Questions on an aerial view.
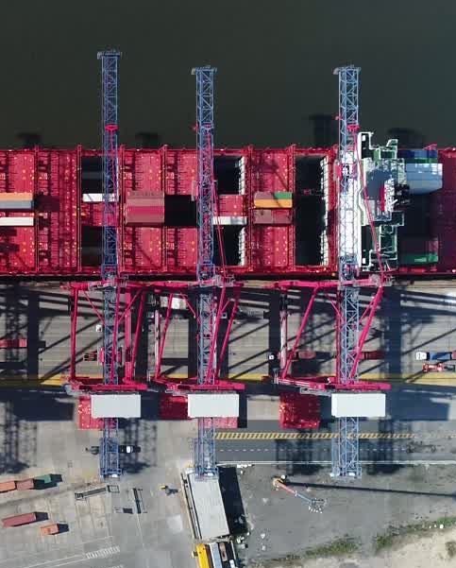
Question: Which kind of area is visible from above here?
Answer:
port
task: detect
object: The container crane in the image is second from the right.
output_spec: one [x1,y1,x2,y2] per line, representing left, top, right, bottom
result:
[141,65,252,481]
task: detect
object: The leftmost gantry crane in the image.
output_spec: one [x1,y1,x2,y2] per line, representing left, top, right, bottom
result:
[54,48,154,481]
